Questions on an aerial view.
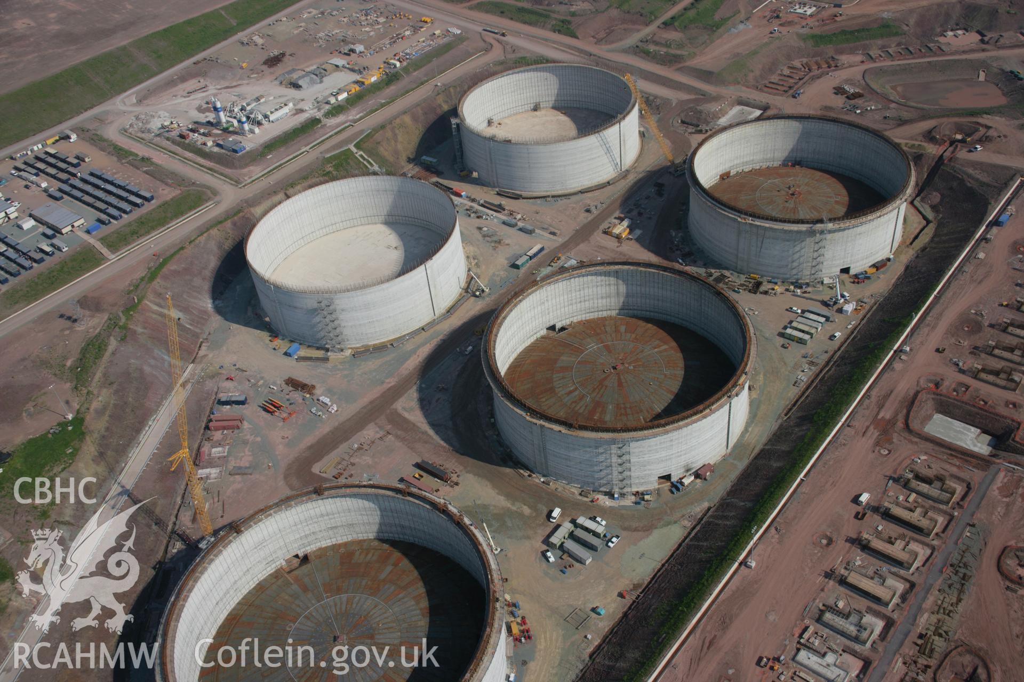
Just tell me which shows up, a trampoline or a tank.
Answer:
tank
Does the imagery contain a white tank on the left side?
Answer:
Yes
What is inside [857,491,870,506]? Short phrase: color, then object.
white vehicle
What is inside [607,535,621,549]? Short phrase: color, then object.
white vehicle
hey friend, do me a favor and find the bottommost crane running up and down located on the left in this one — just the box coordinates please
[166,292,229,547]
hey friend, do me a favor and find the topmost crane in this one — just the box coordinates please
[625,73,687,174]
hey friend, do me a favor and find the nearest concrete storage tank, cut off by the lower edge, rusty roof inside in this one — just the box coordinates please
[158,480,510,682]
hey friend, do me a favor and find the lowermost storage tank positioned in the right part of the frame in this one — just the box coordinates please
[487,261,759,493]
